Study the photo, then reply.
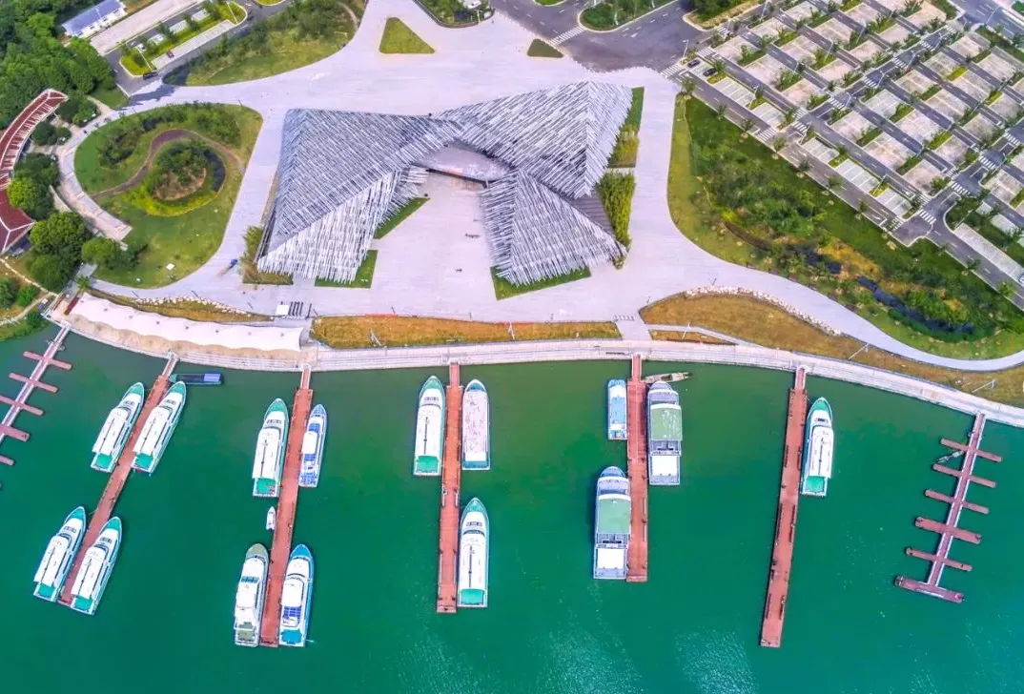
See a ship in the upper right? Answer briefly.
No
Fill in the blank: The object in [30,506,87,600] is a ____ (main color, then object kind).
white boat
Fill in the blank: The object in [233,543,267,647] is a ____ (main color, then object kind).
white boat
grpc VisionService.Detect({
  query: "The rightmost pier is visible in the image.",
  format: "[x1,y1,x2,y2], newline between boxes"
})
[895,409,1002,602]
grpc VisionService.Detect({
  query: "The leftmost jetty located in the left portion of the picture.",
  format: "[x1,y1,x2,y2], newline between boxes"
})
[0,323,74,465]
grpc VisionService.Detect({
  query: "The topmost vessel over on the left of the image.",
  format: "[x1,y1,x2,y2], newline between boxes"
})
[171,372,223,384]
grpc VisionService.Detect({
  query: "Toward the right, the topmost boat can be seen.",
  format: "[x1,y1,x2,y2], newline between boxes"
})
[644,371,691,383]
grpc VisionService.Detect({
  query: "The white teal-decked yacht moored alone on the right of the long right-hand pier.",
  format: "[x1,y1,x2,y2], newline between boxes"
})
[799,396,836,500]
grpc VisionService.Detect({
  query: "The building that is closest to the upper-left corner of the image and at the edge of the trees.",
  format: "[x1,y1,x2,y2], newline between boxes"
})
[60,0,128,39]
